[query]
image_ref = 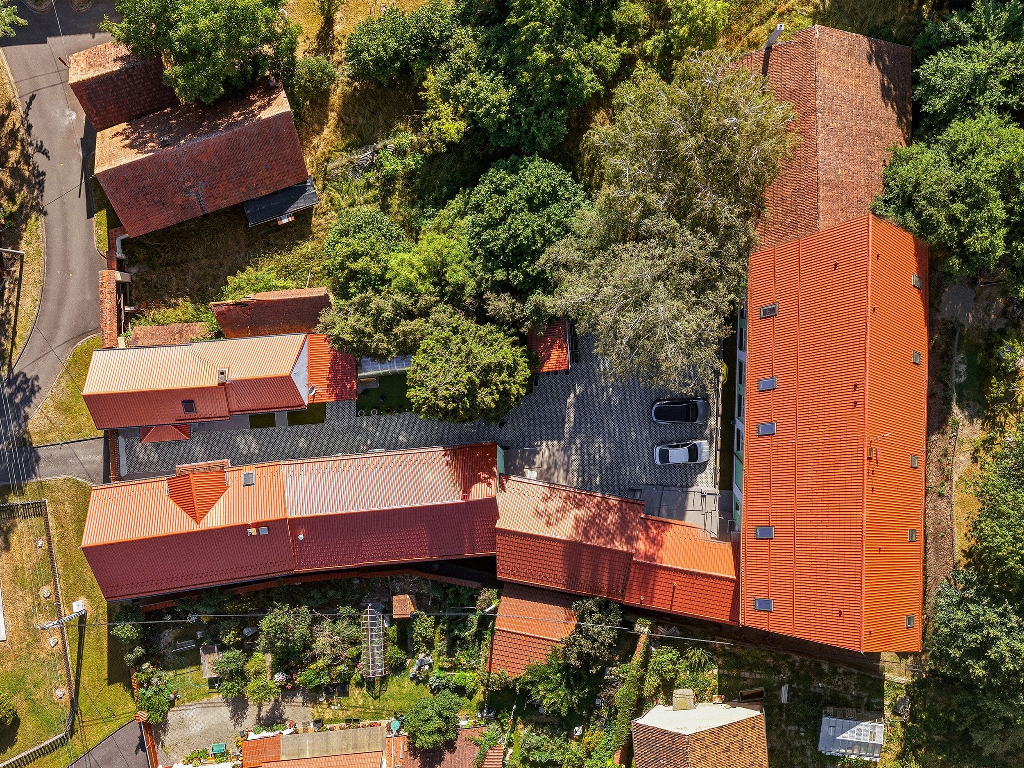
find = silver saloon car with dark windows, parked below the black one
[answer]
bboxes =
[652,437,711,467]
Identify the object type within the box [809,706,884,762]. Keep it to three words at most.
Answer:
greenhouse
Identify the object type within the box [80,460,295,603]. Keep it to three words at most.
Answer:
house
